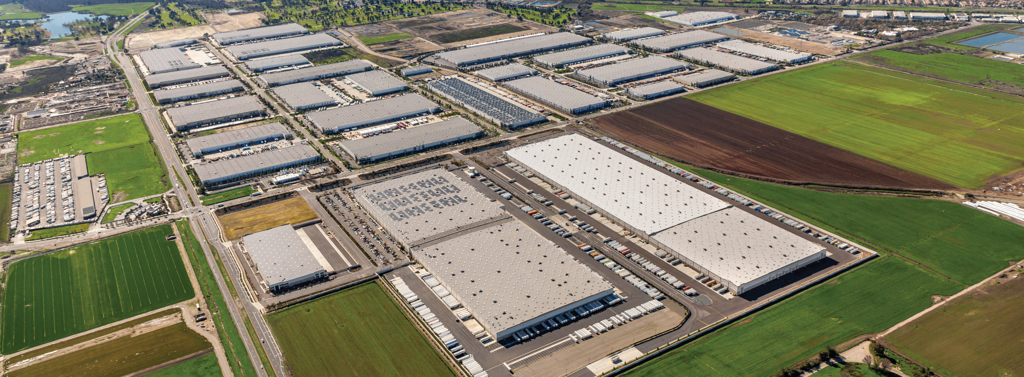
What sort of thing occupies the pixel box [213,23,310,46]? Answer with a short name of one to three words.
building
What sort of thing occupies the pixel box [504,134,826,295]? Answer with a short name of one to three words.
warehouse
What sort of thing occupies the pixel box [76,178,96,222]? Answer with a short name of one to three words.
shed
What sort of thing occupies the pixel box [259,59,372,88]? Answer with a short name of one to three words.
building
